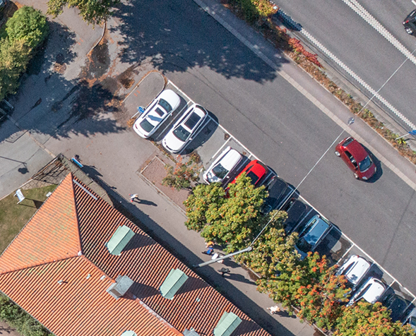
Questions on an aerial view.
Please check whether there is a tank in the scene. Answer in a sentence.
No, I can't see a single tank in this photo.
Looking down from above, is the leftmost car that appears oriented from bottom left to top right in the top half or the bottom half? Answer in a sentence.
The leftmost car that appears oriented from bottom left to top right sits in the top half of the picture.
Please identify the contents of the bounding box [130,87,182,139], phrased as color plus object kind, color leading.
white car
